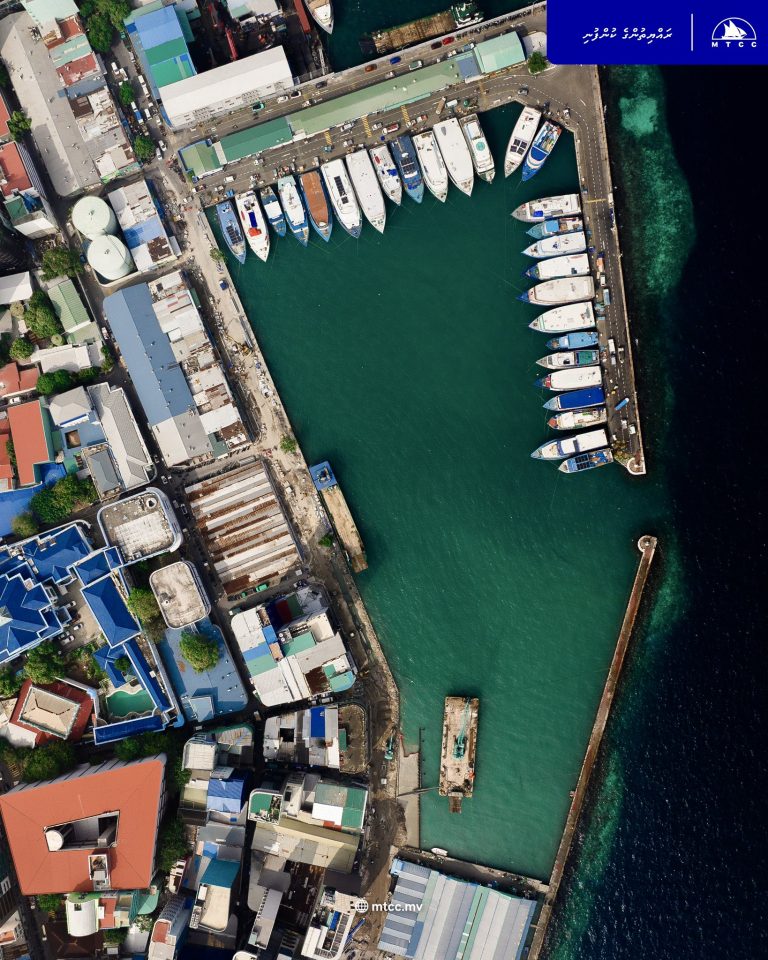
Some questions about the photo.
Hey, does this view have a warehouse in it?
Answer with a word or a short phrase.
Yes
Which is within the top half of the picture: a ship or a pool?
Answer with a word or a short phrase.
ship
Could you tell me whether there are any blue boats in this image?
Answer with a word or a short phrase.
Yes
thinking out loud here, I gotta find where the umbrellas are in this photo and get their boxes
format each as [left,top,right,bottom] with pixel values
[10,301,24,315]
[52,335,64,346]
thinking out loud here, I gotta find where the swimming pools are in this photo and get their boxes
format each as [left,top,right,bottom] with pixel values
[104,682,163,723]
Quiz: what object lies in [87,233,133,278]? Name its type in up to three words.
storage tank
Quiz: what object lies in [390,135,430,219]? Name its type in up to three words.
boat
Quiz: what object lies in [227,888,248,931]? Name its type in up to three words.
house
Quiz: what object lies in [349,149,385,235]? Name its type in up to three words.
boat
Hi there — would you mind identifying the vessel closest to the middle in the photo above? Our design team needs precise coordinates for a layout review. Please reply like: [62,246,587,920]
[309,460,369,577]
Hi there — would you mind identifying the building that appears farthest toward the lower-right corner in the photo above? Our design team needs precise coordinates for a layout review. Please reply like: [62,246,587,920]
[376,854,539,960]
